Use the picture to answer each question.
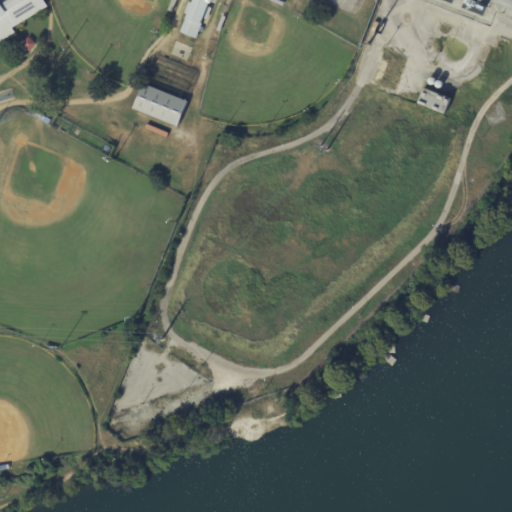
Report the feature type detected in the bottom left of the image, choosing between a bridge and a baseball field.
baseball field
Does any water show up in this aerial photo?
Yes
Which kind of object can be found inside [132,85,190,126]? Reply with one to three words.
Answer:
shed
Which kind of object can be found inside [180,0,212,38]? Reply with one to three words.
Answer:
building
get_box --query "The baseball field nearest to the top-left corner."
[50,0,168,85]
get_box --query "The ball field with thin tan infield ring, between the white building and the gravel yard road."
[202,0,358,126]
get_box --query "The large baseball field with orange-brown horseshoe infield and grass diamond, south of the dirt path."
[0,106,190,345]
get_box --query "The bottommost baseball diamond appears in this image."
[0,336,96,464]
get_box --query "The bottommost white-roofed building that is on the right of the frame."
[417,88,453,113]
